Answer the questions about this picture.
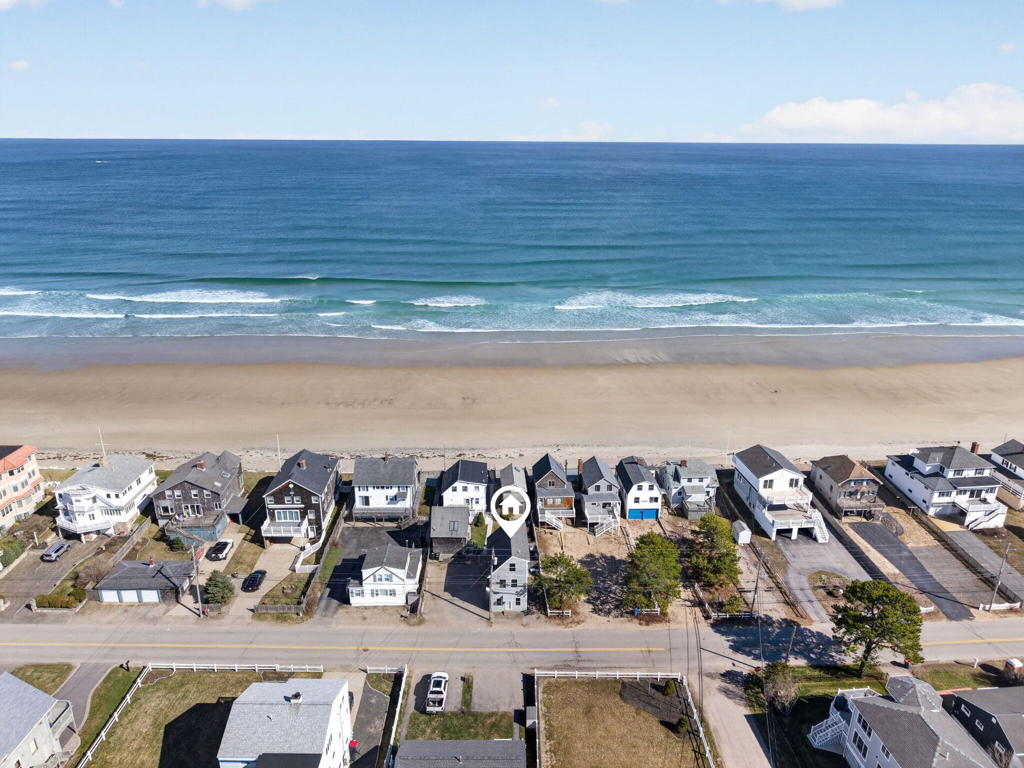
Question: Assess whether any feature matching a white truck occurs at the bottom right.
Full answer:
No, at the bottom right there is no white truck.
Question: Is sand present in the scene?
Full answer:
Yes, there's sand in this view.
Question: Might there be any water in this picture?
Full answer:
Yes, some water is visible.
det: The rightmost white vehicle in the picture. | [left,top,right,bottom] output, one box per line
[425,669,450,713]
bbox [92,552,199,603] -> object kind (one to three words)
building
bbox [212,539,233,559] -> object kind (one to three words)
car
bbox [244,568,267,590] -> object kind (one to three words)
car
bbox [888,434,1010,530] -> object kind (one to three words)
house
